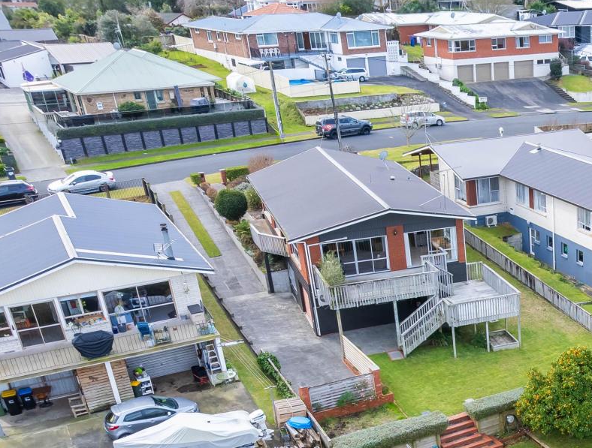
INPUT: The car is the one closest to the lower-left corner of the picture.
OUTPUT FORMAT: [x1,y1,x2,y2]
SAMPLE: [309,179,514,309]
[86,394,201,447]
